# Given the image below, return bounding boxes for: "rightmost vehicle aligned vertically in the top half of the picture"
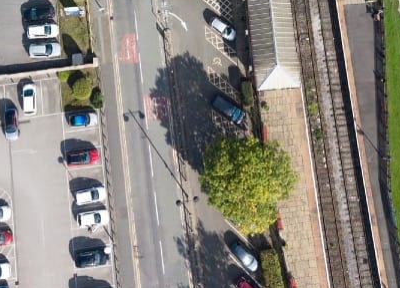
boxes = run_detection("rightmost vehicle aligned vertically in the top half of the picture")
[19,80,39,120]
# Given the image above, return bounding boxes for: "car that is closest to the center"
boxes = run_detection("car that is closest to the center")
[210,93,248,126]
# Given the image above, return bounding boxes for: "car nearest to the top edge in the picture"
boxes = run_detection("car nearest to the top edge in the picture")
[21,4,60,22]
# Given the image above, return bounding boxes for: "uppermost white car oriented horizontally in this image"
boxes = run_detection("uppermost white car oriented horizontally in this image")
[24,21,63,40]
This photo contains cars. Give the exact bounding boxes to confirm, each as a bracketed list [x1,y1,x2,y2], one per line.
[25,40,64,58]
[66,110,100,127]
[0,103,20,138]
[210,93,248,126]
[62,147,103,167]
[19,80,39,120]
[235,273,258,288]
[209,13,239,43]
[228,237,258,275]
[24,21,63,40]
[71,246,113,269]
[0,228,16,248]
[0,205,12,222]
[21,4,60,22]
[76,210,111,233]
[0,262,12,280]
[72,186,108,205]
